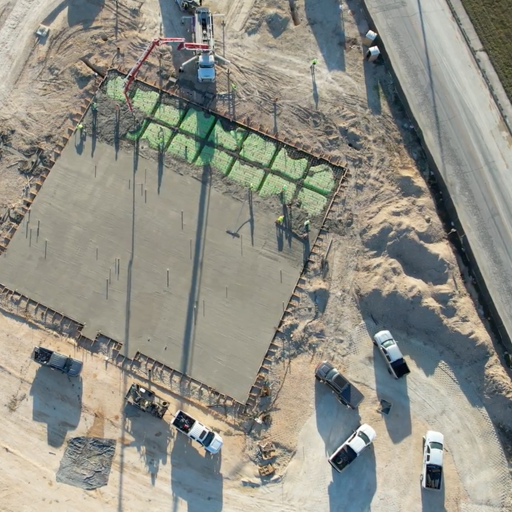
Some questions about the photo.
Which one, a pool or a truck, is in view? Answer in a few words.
truck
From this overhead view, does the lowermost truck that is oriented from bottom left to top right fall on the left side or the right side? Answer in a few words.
right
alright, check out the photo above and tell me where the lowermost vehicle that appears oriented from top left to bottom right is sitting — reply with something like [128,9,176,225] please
[170,409,223,453]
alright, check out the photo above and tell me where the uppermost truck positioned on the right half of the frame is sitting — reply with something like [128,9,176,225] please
[373,331,412,379]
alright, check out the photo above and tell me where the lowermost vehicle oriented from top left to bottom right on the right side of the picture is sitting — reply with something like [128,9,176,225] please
[313,362,364,410]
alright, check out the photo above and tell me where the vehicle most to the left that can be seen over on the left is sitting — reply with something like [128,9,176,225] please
[31,345,84,378]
